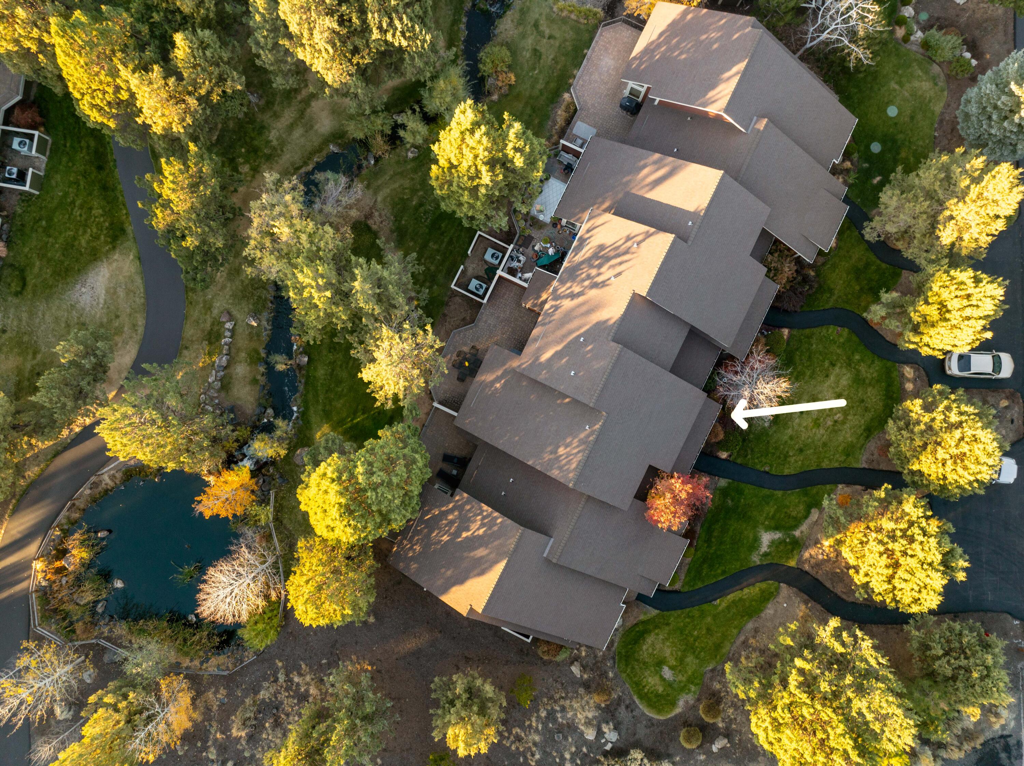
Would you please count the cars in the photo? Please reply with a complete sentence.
The picture shows 2 cars.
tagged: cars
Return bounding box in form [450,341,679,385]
[939,350,1011,380]
[998,455,1021,485]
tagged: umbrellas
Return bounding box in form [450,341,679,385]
[536,252,564,268]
